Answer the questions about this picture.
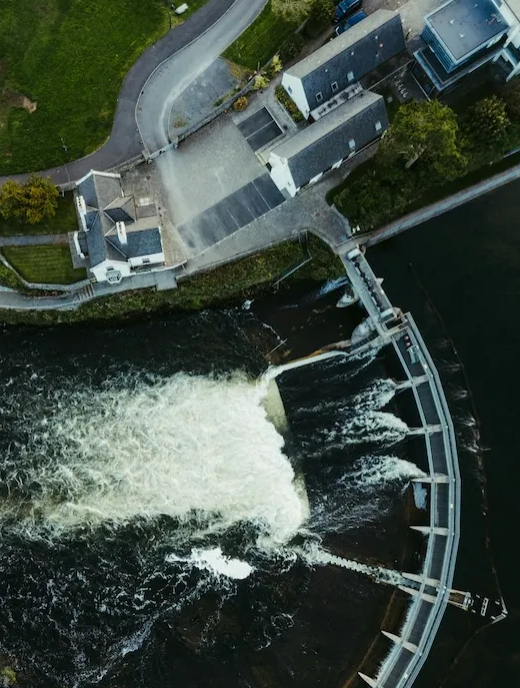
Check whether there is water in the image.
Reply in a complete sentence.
Yes, water shows up in the scene.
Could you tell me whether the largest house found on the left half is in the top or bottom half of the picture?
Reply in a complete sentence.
The top half of the photo is where the largest house found on the left half is.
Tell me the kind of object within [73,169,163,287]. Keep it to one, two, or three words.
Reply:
house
